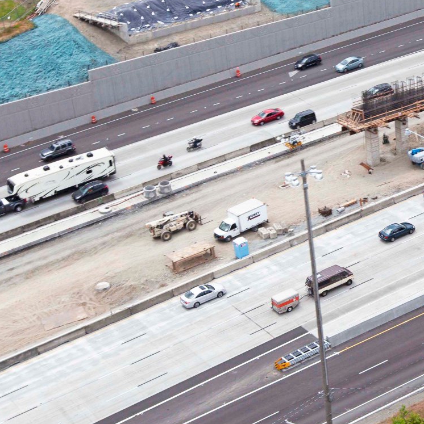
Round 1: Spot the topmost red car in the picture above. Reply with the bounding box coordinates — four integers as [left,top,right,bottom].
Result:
[250,108,285,126]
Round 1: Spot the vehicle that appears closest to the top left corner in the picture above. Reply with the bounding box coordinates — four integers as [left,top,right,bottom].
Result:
[39,136,78,159]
